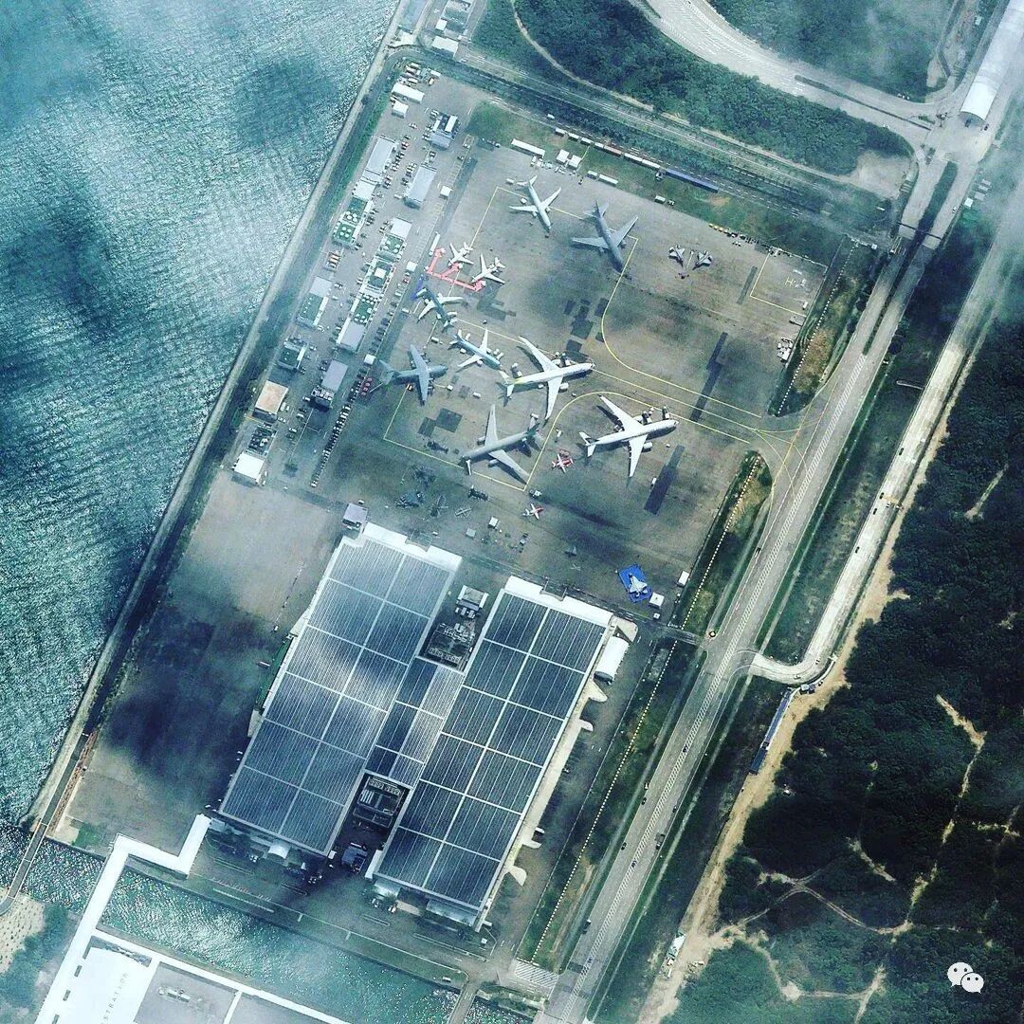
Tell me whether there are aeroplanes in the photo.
Yes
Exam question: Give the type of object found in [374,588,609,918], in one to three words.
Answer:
building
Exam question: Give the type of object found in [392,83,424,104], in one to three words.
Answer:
tent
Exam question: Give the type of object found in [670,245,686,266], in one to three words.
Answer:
airplane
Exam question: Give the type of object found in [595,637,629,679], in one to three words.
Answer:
hangar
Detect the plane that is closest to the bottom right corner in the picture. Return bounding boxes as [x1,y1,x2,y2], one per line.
[627,574,646,598]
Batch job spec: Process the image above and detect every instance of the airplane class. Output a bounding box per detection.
[670,245,686,266]
[449,239,475,265]
[514,177,565,230]
[573,200,641,272]
[461,404,546,478]
[582,394,679,478]
[451,505,475,517]
[693,250,711,270]
[565,546,577,558]
[382,344,447,399]
[419,286,463,327]
[472,250,507,282]
[627,574,646,598]
[449,328,500,368]
[503,338,594,415]
[522,503,543,519]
